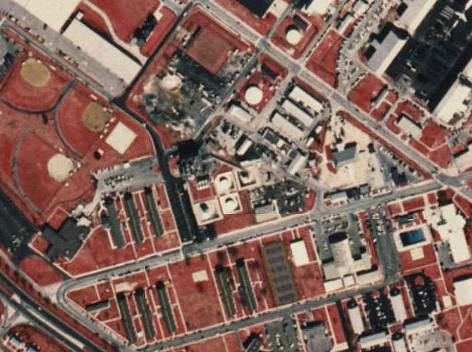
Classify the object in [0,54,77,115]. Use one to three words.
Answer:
baseball field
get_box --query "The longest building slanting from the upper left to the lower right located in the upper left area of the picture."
[62,18,145,87]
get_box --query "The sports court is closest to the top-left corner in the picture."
[105,121,137,154]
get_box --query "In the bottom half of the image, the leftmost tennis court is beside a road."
[261,241,298,304]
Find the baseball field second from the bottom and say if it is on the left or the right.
left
